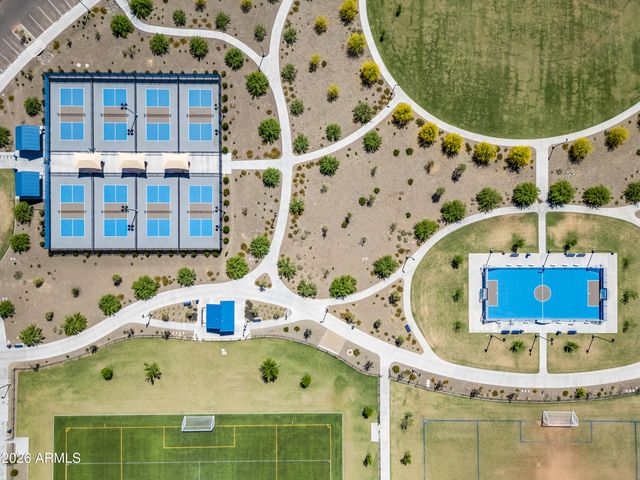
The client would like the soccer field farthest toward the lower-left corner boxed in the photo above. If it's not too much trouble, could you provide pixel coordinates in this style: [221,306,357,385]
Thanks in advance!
[53,412,344,480]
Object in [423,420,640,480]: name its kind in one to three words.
soccer field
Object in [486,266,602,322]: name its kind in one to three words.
sports court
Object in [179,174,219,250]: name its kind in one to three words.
sports court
